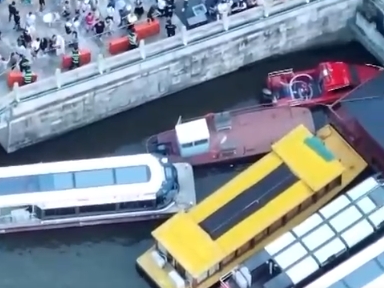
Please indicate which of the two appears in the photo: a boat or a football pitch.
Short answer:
boat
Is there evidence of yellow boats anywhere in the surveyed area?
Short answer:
Yes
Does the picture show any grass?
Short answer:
No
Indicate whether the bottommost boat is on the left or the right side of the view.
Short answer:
right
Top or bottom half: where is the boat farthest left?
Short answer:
bottom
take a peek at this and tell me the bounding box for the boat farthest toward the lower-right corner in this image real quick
[308,234,384,288]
